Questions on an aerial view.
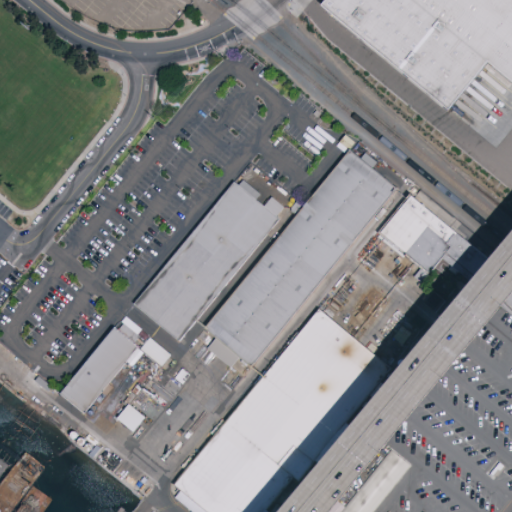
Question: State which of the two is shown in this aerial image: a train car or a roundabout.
train car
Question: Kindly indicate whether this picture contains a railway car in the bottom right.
No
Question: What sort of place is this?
industrial area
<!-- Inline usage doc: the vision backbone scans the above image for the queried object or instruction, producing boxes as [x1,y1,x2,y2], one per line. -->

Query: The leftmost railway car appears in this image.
[350,111,382,138]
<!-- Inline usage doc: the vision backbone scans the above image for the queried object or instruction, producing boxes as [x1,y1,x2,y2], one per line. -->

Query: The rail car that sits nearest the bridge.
[462,203,488,226]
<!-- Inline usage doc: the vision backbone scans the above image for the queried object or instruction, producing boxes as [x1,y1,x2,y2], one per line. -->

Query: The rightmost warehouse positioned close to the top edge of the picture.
[320,0,512,110]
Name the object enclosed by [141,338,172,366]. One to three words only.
shed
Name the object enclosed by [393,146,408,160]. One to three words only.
rail car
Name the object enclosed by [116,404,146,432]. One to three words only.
shed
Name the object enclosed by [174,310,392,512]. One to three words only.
warehouse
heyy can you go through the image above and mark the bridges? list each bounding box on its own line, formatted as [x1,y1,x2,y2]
[279,230,512,512]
